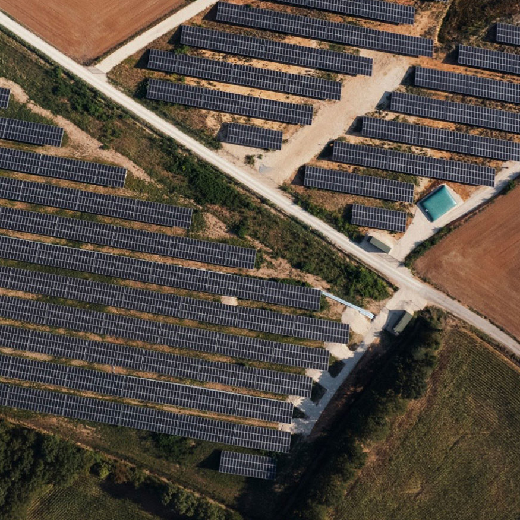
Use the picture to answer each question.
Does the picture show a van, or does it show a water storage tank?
water storage tank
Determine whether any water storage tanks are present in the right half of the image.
Yes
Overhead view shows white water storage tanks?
No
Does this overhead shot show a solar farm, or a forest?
solar farm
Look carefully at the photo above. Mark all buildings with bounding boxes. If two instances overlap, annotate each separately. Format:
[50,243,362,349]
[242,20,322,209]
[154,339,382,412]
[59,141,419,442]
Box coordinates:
[392,310,412,333]
[367,237,391,253]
